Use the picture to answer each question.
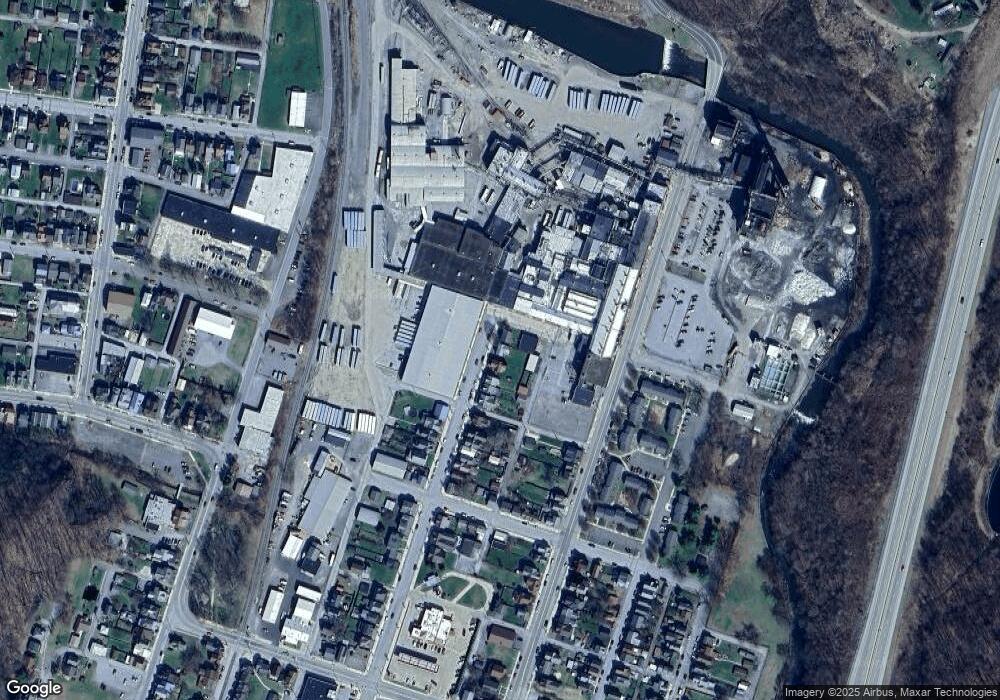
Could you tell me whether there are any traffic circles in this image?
No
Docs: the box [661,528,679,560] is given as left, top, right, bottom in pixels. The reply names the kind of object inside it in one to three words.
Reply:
building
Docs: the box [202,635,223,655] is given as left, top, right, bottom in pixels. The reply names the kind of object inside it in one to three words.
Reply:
house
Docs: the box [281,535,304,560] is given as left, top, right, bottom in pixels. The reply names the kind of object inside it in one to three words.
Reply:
shed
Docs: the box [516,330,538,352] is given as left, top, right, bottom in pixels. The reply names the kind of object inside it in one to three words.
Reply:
house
